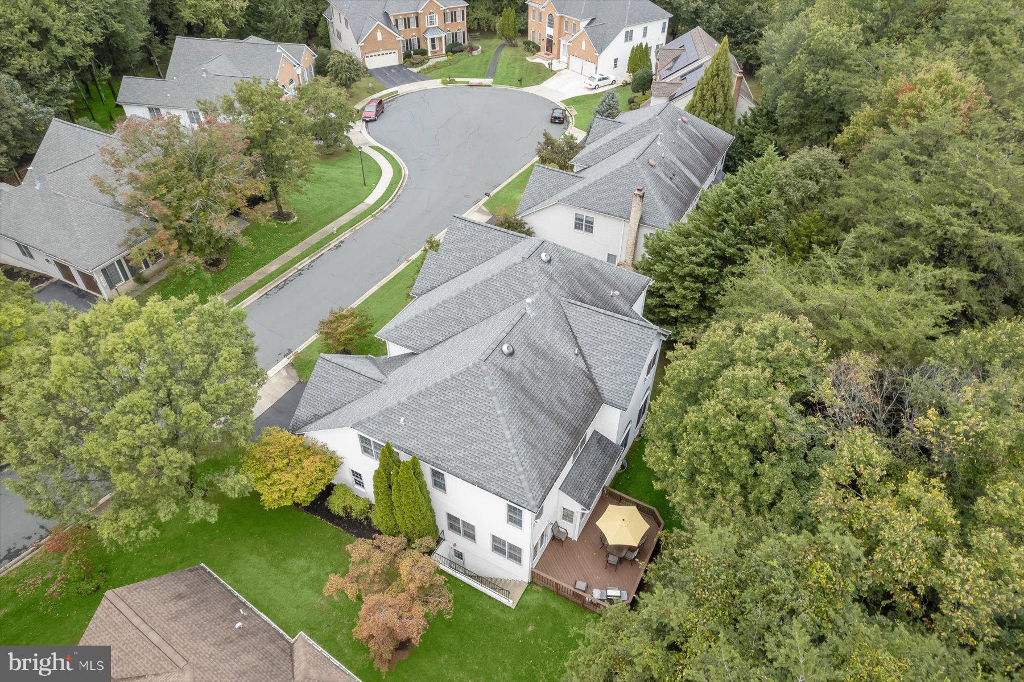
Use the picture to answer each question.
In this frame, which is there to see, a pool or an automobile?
automobile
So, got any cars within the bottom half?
No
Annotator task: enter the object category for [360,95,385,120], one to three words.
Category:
car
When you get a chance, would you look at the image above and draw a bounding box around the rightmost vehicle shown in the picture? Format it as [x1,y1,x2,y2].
[584,72,618,88]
